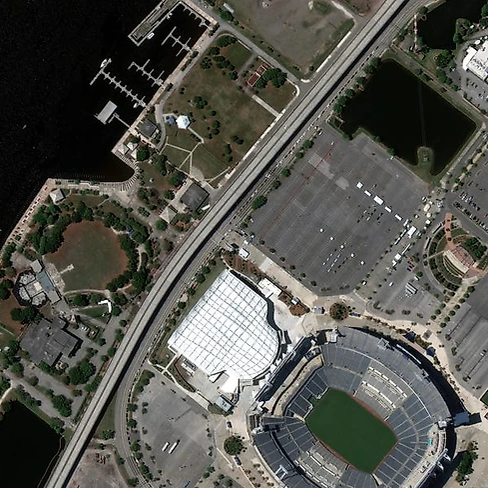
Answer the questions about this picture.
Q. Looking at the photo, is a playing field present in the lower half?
Yes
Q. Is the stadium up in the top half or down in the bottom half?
bottom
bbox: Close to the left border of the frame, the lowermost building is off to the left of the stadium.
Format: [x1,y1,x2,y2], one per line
[20,317,82,367]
